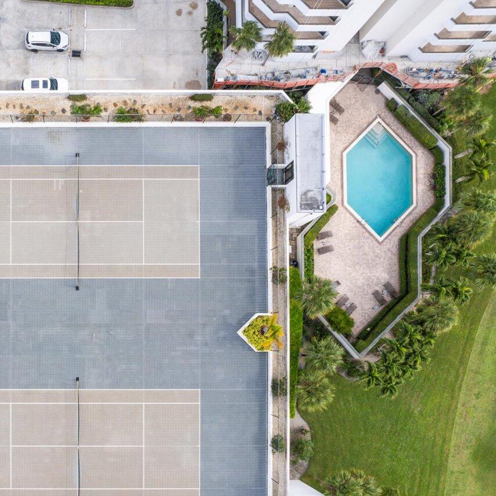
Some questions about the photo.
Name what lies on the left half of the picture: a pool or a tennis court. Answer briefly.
tennis court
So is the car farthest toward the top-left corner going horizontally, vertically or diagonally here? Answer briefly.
horizontally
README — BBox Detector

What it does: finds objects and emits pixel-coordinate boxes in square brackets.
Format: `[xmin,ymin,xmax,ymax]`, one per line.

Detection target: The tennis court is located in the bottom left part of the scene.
[0,390,199,496]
